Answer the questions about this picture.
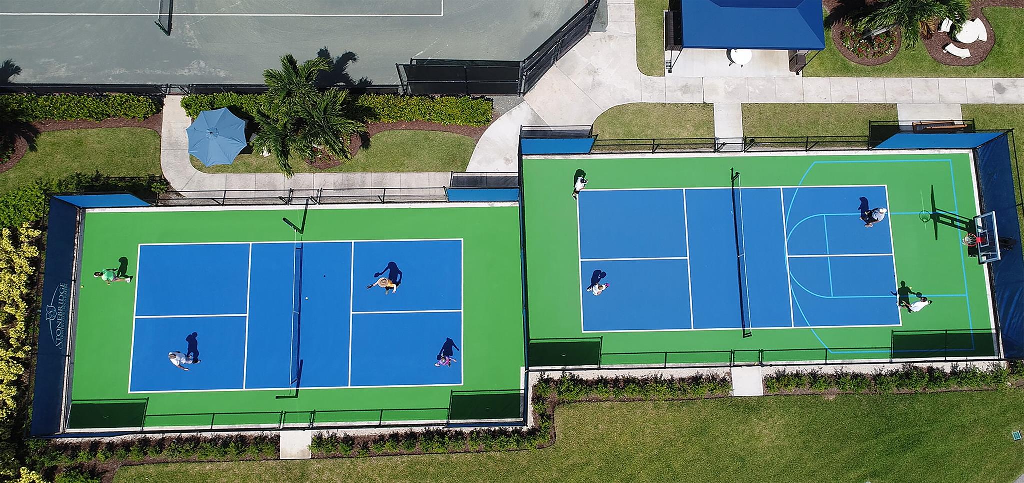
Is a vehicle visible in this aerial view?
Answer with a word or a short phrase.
No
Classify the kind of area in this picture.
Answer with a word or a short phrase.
sports ground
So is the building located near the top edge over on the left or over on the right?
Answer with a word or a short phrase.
right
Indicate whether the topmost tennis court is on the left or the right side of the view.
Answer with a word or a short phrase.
left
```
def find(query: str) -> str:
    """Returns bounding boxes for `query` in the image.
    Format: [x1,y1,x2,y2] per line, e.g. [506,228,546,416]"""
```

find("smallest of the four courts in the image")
[785,159,974,353]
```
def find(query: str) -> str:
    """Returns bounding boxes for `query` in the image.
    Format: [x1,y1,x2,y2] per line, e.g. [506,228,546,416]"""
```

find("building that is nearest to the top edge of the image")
[666,0,825,76]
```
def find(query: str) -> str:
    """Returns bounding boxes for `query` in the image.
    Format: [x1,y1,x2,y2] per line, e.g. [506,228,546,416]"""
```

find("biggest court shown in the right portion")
[523,148,998,370]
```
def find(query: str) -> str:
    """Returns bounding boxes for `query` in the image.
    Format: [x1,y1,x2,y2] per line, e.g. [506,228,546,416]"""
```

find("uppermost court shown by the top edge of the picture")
[0,0,608,125]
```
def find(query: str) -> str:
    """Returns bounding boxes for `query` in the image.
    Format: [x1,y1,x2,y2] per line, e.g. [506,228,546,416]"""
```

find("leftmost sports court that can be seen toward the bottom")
[62,201,526,432]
